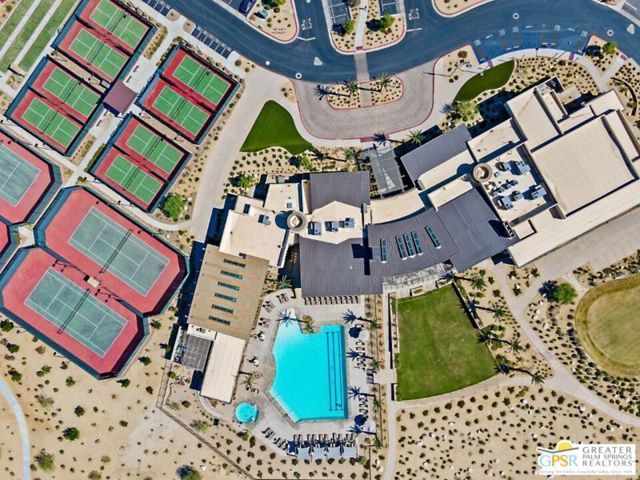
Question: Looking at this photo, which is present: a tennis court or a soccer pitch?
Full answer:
Of the two, only a tennis court appears.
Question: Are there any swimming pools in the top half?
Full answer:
No, looking in the top half, there is no swimming pool.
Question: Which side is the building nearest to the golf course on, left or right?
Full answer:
It is on the right.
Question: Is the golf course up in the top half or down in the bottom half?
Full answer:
It is in the bottom half that the golf course appears.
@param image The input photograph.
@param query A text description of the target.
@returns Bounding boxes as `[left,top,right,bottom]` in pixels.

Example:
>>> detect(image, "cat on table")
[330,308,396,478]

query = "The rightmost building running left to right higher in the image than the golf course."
[220,76,640,296]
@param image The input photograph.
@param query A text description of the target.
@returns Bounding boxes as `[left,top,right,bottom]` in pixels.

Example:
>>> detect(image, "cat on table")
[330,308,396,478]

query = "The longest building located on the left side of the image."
[180,245,269,402]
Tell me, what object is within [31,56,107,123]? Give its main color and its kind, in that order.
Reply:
green sports court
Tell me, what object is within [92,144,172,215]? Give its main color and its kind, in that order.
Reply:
green sports court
